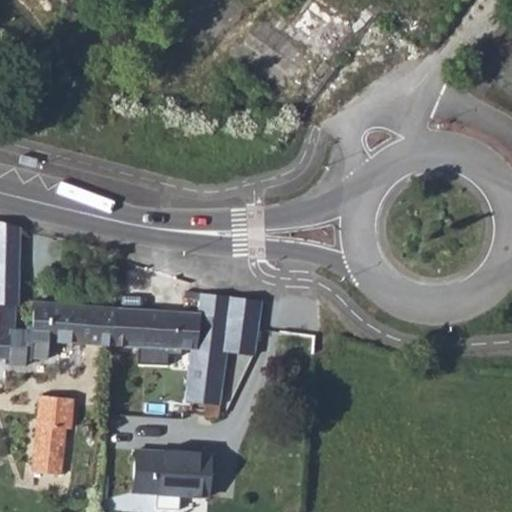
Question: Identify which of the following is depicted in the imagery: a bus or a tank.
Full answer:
Looking from above, you can make out a bus.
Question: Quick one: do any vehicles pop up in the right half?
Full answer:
No, the scene shows no vehicle in the right half.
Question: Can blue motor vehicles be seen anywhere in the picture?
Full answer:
No, there isn't any blue motor vehicle down there.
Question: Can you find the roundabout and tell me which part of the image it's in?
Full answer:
The roundabout sits in the right section of the image.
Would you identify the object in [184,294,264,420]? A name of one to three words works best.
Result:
building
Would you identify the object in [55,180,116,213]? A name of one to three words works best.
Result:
bus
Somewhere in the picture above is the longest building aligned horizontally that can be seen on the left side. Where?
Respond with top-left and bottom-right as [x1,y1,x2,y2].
[32,302,200,367]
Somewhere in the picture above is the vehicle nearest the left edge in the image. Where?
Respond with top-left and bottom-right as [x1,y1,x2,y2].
[17,154,46,169]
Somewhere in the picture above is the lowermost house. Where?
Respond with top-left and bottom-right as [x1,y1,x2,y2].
[132,450,213,498]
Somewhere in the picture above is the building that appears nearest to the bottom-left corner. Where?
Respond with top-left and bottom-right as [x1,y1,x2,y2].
[30,396,74,475]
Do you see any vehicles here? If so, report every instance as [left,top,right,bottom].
[190,216,210,226]
[144,212,167,222]
[138,426,163,437]
[17,154,46,169]
[55,180,116,213]
[112,432,132,442]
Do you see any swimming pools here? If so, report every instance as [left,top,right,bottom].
[144,402,168,416]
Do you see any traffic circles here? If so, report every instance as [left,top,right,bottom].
[343,129,512,326]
